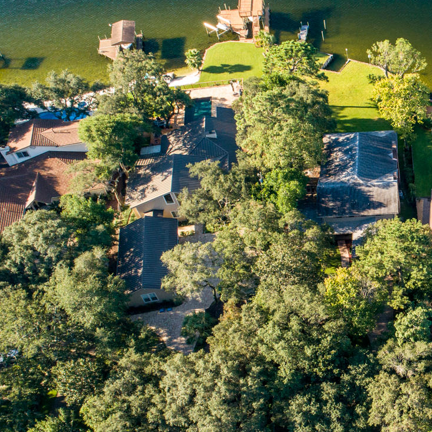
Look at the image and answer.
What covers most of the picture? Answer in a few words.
trees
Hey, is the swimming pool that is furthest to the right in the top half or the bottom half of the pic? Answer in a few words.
top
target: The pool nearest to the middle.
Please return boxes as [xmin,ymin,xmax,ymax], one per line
[183,96,213,123]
